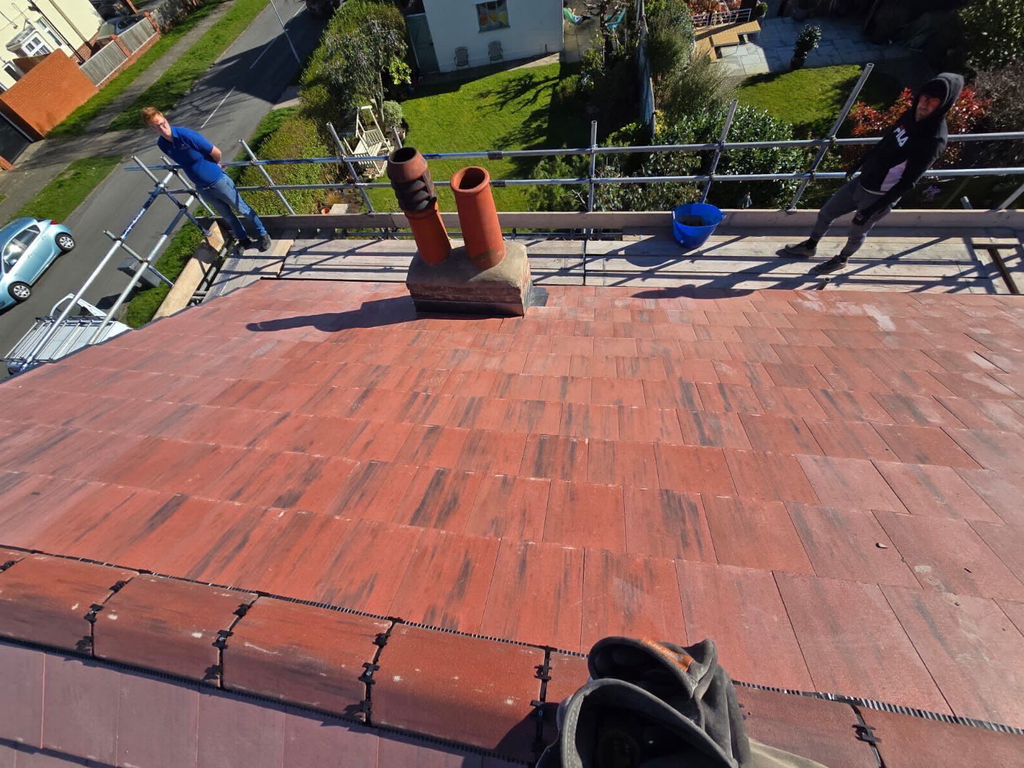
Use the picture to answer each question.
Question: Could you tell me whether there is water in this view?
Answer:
No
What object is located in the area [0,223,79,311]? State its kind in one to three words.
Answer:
car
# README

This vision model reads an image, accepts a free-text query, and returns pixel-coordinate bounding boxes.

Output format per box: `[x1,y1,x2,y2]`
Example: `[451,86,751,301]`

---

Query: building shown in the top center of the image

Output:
[418,0,560,72]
